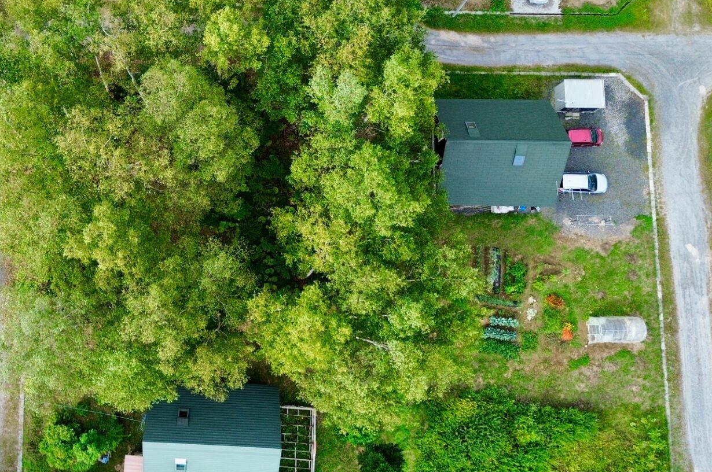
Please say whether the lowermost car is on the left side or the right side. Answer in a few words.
right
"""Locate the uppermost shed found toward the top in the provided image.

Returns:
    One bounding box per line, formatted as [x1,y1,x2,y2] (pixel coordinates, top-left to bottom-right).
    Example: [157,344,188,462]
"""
[554,79,605,112]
